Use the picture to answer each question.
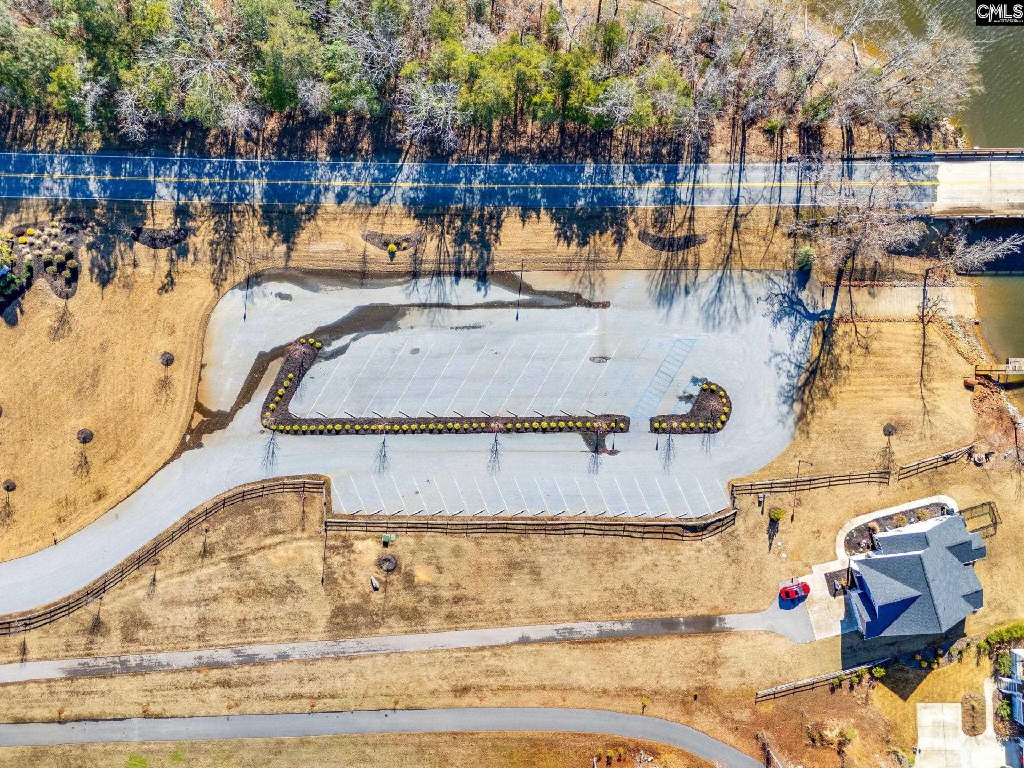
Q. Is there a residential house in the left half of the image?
No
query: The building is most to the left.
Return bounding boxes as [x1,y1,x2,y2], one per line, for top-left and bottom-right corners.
[836,513,985,641]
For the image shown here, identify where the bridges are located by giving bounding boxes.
[931,153,1024,219]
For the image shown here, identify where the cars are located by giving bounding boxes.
[781,583,811,601]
